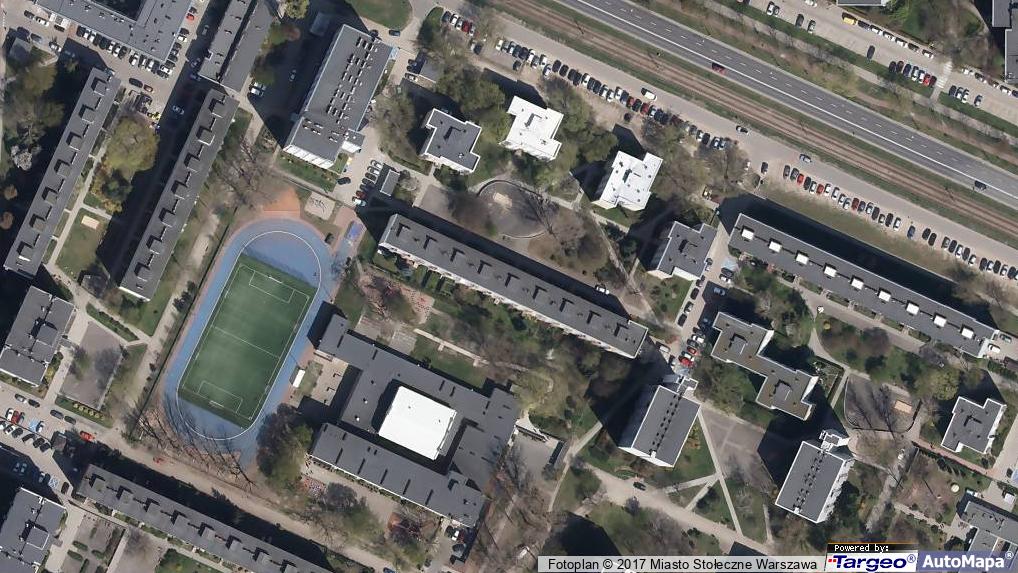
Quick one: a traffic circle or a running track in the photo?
running track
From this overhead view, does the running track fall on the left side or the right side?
left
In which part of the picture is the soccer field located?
left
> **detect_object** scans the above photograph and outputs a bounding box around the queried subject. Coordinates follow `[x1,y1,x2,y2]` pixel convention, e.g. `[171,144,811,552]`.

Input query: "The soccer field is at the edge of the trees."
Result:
[177,254,317,429]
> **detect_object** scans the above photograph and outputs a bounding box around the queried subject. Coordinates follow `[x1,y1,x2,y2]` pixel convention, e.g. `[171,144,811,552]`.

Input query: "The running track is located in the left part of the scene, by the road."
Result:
[154,213,342,472]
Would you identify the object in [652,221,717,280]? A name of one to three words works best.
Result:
building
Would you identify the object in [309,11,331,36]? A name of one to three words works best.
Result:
shed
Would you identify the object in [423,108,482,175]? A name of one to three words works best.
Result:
building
